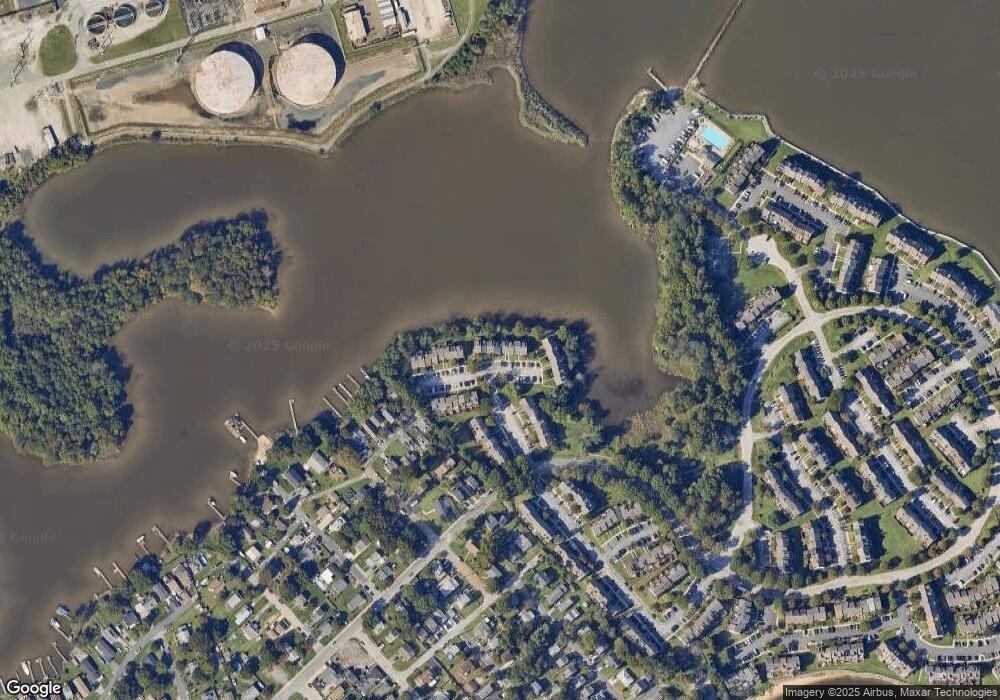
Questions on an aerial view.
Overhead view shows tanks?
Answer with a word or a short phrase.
Yes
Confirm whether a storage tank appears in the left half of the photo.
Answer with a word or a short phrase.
Yes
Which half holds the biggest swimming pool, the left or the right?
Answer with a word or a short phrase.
right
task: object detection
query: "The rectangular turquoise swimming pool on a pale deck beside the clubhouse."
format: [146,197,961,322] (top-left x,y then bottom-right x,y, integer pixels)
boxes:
[696,119,735,156]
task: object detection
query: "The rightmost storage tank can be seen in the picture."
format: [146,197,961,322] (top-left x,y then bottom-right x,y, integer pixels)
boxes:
[273,43,339,110]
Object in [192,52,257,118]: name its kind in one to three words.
storage tank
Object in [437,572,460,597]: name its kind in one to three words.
house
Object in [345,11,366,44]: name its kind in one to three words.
building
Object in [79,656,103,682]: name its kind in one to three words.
house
